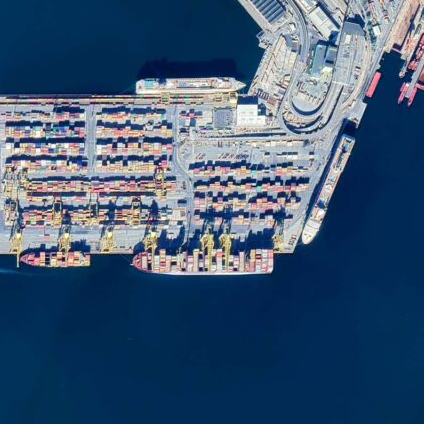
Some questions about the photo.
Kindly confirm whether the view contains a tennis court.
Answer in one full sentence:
No, no tennis court can be seen from above.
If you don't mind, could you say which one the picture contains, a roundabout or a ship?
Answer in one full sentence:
Of the two, only a ship appears.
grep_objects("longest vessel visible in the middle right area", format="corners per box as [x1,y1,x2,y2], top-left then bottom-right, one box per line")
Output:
[304,136,352,243]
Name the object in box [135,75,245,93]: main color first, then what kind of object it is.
white ship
